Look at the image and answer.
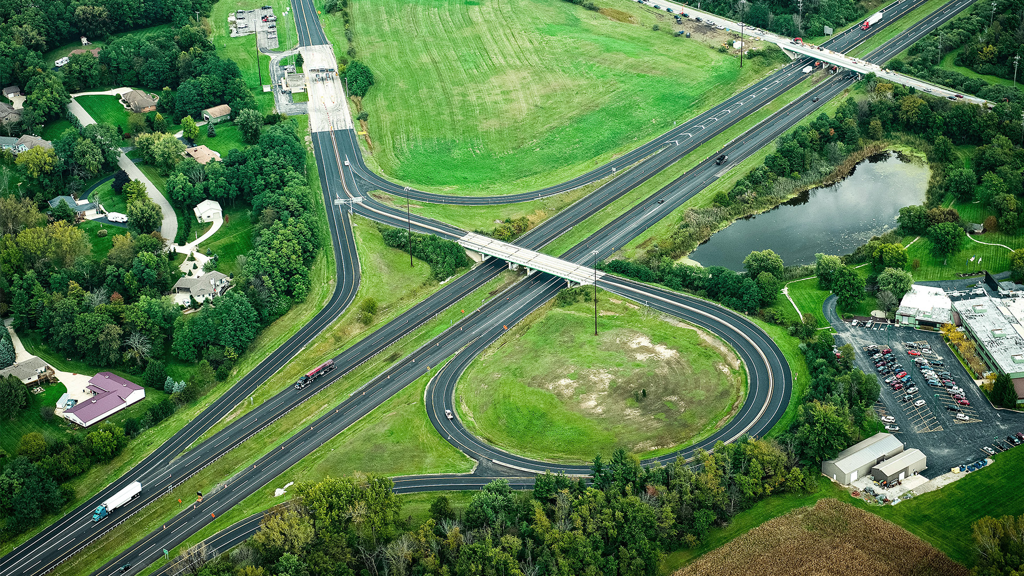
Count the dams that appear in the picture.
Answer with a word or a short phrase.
zero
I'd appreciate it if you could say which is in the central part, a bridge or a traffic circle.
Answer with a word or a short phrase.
bridge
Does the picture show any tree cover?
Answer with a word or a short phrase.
Yes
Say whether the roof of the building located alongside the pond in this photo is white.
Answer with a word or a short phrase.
Yes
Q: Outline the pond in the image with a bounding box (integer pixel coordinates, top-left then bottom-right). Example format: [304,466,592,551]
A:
[691,151,931,268]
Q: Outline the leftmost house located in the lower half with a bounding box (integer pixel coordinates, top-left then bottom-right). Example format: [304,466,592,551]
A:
[0,357,58,391]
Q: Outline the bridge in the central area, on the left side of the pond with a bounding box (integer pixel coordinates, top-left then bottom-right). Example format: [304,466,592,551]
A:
[455,229,606,283]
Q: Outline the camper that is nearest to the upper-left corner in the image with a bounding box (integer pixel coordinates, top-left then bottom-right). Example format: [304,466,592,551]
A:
[53,55,70,67]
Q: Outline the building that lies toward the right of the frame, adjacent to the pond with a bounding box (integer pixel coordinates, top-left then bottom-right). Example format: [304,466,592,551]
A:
[895,265,1024,410]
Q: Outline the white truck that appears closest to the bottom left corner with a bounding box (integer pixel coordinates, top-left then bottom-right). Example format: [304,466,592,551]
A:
[92,480,140,519]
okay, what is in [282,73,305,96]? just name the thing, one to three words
building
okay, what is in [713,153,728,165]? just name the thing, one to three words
vehicle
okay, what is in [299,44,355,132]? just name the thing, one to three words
toll station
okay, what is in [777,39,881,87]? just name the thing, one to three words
bridge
